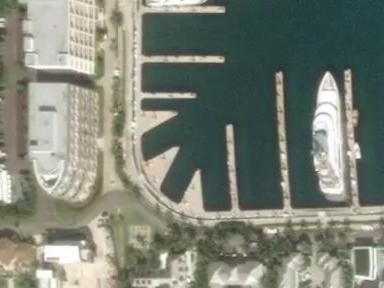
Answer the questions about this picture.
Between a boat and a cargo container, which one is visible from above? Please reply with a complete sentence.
This aerial view contains a boat.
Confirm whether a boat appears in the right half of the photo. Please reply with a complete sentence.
Yes, you'll find a boat in the right half of the photo.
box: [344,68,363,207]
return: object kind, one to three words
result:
pier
